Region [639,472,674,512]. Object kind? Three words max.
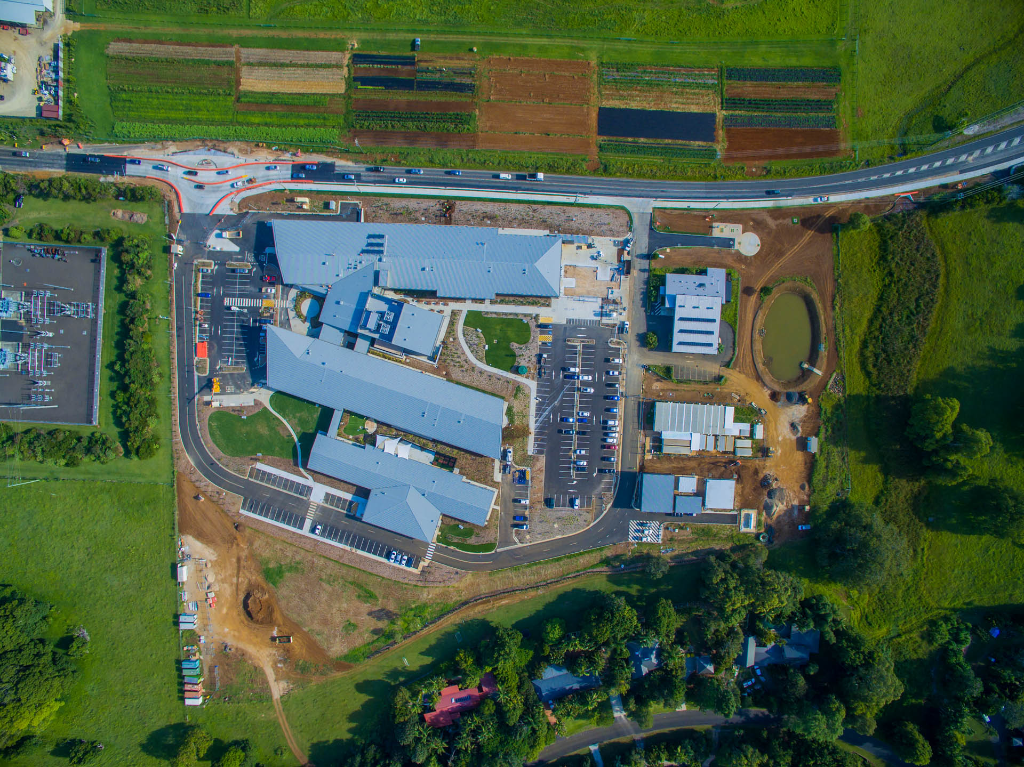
shed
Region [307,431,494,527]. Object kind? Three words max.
building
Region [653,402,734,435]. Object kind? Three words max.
building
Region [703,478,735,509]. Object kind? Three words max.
shed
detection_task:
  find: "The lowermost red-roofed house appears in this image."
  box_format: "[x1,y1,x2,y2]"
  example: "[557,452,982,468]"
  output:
[424,673,499,728]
